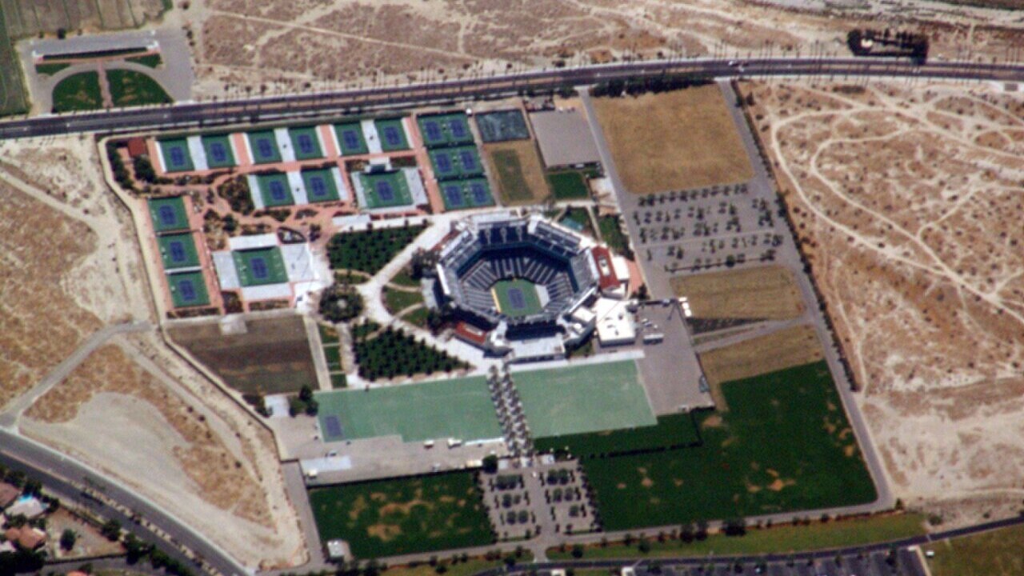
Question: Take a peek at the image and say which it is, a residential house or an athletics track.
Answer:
residential house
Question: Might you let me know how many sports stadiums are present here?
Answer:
1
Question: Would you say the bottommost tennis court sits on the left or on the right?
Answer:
left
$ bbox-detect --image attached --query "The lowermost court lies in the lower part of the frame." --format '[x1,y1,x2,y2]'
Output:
[319,412,345,440]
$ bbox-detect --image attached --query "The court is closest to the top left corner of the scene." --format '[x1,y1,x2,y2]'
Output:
[160,135,194,172]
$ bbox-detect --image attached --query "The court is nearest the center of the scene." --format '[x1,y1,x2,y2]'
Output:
[493,277,551,315]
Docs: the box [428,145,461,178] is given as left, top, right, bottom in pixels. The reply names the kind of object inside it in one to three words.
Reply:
tennis court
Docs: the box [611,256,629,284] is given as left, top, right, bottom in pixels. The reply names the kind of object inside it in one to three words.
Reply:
building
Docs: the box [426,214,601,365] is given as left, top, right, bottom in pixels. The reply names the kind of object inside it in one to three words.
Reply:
stadium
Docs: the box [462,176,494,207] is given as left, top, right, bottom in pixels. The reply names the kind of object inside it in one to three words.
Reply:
tennis court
